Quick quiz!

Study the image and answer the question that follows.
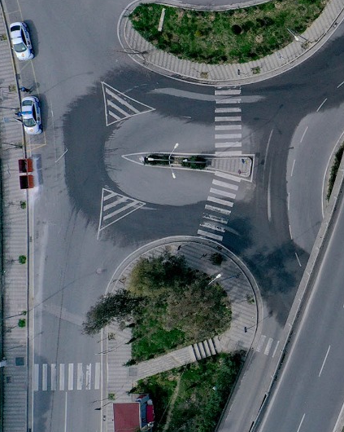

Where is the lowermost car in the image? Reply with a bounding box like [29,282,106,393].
[21,97,45,136]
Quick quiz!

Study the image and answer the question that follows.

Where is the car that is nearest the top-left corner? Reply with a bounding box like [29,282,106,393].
[10,21,36,62]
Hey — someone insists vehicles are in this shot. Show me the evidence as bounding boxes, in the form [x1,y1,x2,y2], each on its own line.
[21,97,45,136]
[10,21,36,62]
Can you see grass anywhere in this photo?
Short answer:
Yes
